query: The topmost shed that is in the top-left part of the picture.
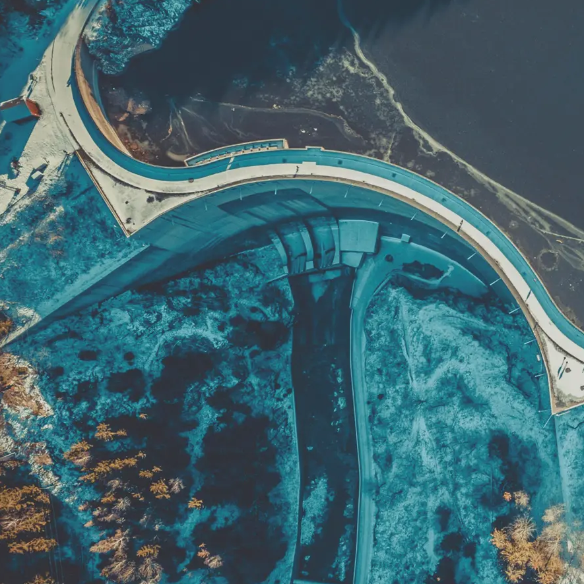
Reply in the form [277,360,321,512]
[0,98,42,123]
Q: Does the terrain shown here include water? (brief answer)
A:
Yes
